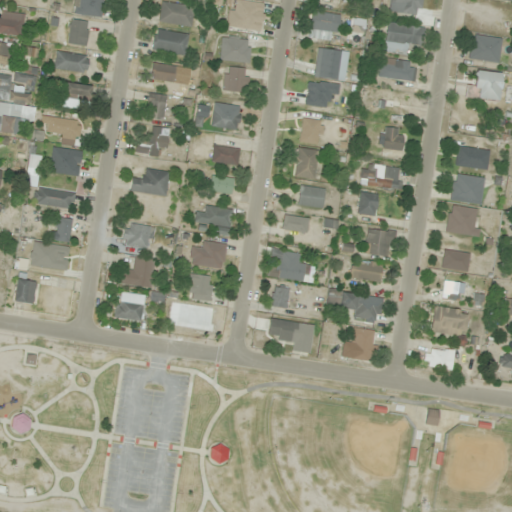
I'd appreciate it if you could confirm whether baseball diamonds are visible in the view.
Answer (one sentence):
Yes, a baseball diamond is visible in the scene.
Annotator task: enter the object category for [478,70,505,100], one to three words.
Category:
house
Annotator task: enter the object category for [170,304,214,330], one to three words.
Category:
building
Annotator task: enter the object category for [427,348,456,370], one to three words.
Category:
house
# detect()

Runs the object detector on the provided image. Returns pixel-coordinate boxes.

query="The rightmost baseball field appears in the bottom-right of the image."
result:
[432,424,512,512]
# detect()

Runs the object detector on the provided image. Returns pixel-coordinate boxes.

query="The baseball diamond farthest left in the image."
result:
[257,396,416,512]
